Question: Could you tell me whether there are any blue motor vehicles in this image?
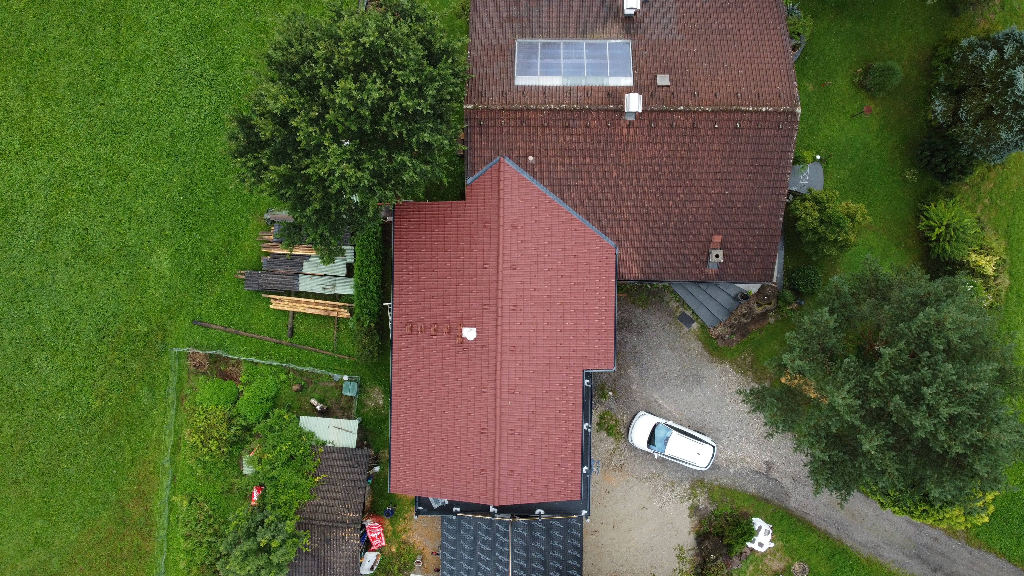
No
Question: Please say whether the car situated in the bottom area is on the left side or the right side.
right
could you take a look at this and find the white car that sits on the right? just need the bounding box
[625,409,720,472]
